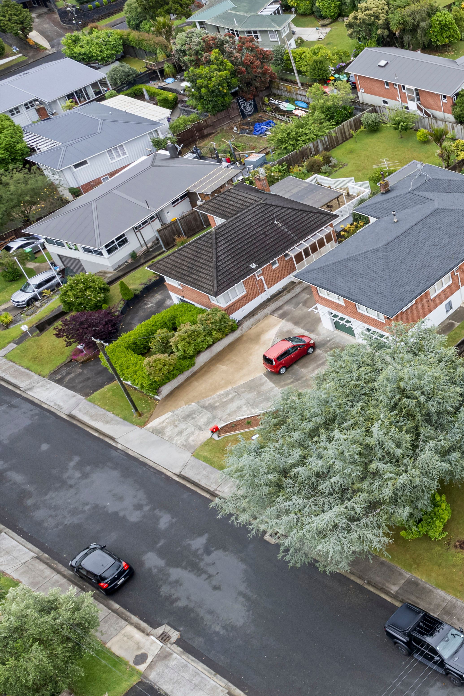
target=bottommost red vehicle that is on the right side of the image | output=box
[257,336,313,373]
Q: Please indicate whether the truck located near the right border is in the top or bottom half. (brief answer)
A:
bottom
